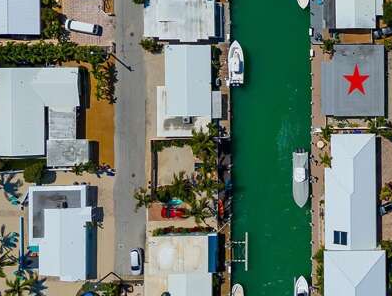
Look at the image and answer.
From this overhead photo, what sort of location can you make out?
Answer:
residential area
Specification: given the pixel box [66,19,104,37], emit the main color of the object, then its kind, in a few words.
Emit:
white vehicle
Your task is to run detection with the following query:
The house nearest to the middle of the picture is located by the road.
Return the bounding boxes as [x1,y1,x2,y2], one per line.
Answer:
[157,45,223,138]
